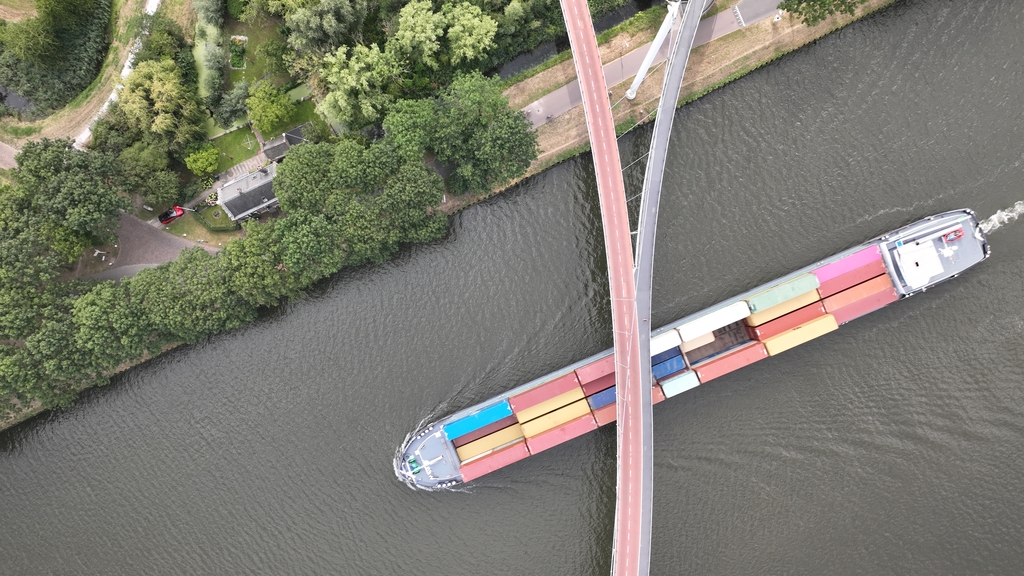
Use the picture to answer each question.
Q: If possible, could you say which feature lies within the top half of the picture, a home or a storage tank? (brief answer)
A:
home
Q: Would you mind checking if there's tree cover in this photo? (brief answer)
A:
Yes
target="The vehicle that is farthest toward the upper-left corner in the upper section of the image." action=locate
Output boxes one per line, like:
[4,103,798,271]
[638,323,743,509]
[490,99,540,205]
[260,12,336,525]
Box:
[159,206,184,223]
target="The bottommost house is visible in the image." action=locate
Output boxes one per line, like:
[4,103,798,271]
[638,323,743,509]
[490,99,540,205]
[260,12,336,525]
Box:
[213,159,287,222]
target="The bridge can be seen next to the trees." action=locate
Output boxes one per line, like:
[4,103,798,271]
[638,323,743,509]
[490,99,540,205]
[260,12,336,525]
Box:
[559,0,717,576]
